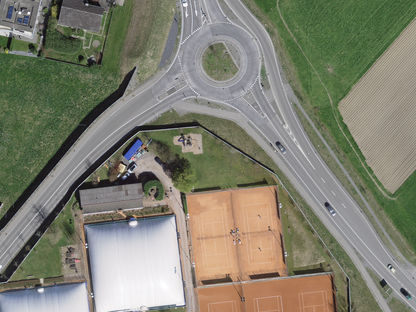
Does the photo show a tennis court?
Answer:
Yes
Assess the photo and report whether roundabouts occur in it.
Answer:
Yes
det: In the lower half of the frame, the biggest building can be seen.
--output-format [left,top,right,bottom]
[80,182,144,215]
